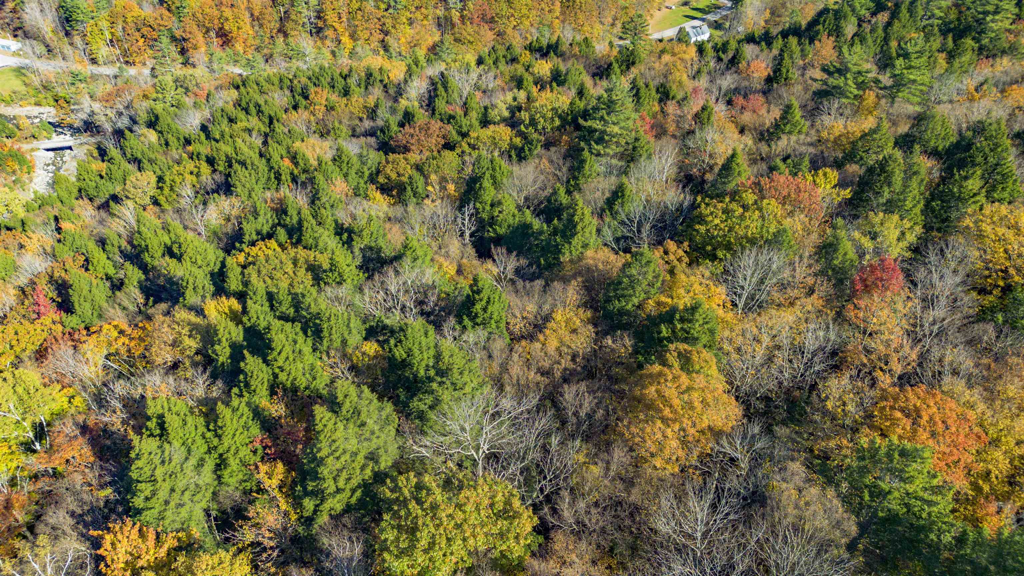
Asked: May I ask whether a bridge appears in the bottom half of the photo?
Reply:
No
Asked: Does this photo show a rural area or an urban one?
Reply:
rural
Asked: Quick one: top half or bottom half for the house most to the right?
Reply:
top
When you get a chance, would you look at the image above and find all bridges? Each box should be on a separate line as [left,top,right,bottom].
[16,130,100,156]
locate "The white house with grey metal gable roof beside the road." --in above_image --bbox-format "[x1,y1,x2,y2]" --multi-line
[681,21,711,43]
